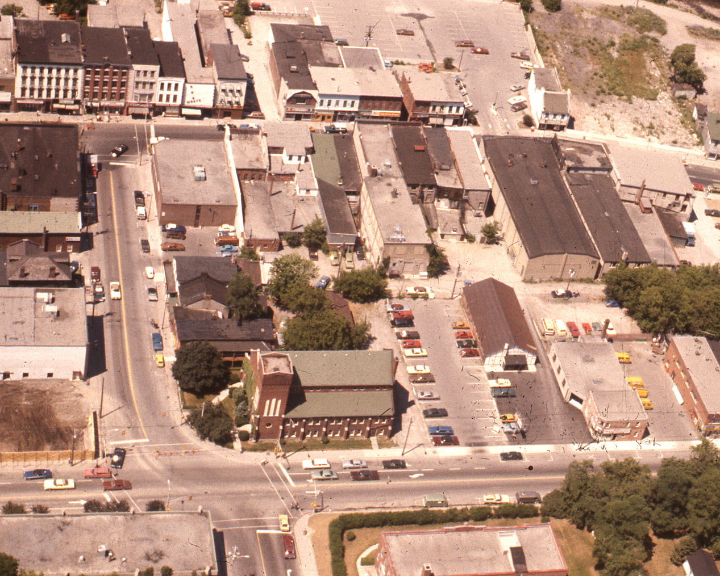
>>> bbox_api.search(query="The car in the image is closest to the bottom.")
[282,536,295,559]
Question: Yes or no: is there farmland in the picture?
No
